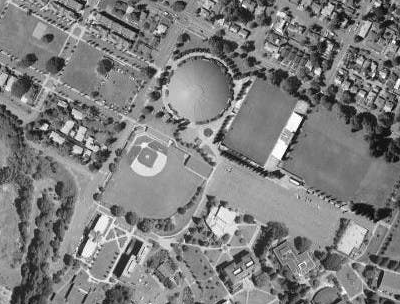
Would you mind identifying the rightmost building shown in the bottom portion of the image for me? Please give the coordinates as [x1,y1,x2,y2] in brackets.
[337,220,368,259]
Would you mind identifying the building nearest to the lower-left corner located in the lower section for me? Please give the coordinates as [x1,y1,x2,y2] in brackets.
[77,213,109,257]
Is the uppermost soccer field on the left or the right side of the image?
right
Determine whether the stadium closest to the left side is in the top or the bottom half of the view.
top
